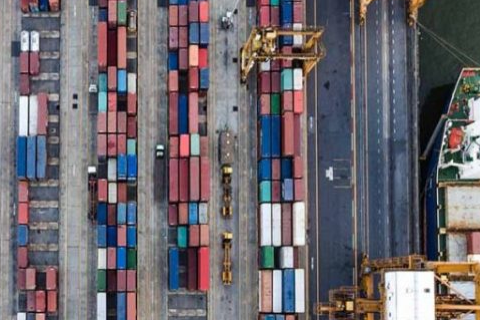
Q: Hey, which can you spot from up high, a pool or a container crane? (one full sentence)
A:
The image shows a container crane.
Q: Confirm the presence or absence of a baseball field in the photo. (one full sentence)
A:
No, the scene contains no baseball field.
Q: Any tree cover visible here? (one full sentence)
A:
No, there's no tree cover in this view.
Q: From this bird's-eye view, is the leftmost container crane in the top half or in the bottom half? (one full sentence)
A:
Seen from above, the leftmost container crane lies in the top half of the view.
